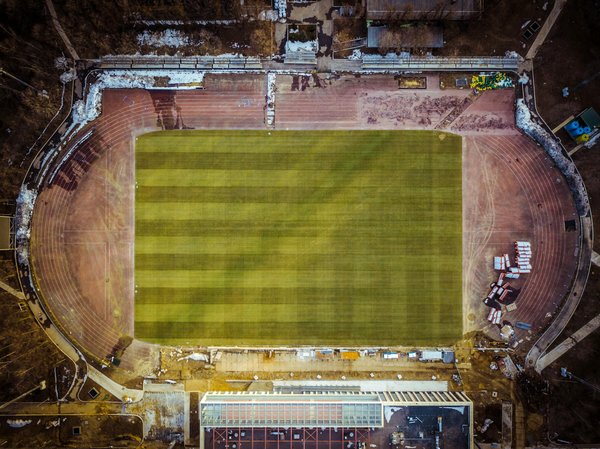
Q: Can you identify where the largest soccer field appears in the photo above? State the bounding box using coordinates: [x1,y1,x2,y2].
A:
[132,128,465,348]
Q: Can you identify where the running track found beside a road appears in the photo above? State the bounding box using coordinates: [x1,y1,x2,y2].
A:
[30,75,580,377]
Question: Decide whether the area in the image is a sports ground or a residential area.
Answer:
sports ground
